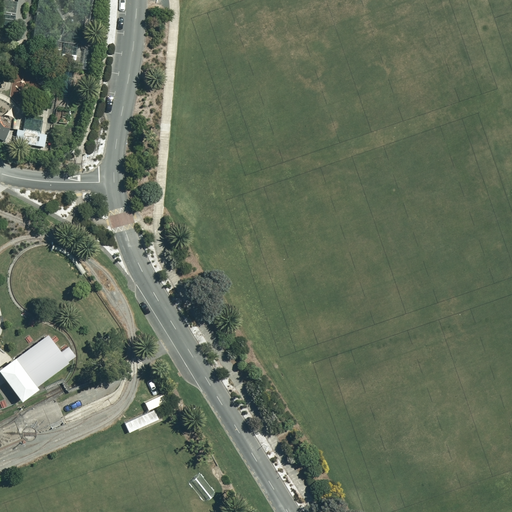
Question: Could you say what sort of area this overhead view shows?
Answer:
sports ground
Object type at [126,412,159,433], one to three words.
shed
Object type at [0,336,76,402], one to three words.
building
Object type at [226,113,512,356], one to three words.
sports field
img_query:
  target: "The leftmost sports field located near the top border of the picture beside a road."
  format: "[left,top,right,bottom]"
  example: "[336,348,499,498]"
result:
[192,0,498,175]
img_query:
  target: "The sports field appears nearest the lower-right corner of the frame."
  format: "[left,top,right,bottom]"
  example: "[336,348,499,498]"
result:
[312,294,512,512]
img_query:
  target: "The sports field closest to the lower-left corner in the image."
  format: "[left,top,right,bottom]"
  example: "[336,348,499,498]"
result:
[0,446,184,512]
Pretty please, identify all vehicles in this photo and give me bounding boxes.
[147,380,158,396]
[116,16,124,30]
[118,0,125,12]
[105,96,113,111]
[64,400,82,412]
[140,302,150,315]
